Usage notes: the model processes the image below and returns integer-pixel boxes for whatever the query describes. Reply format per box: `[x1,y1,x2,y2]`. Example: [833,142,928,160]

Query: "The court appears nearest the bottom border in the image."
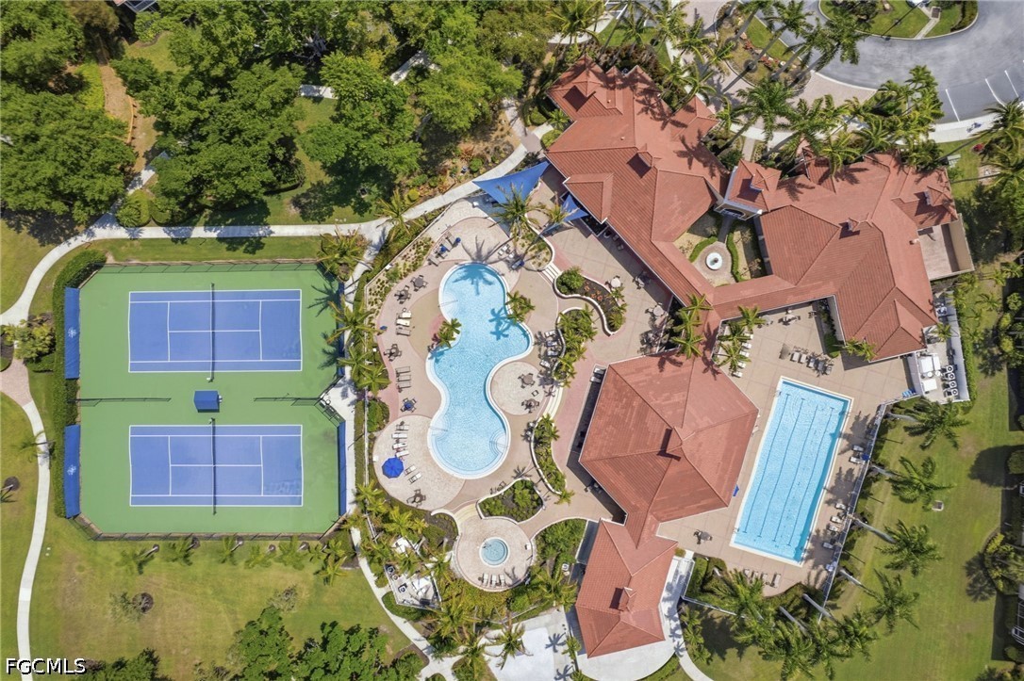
[80,399,338,535]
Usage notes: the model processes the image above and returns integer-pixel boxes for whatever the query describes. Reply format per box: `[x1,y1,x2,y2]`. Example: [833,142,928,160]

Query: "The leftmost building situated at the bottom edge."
[575,508,679,660]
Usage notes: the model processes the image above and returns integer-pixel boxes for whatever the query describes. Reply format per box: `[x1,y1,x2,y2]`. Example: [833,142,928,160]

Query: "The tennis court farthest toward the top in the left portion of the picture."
[80,264,337,401]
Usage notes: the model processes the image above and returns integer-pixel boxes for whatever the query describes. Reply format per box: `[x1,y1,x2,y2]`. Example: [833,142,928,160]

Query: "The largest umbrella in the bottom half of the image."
[382,456,404,478]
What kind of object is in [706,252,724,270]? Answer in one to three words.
fountain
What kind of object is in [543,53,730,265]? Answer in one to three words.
building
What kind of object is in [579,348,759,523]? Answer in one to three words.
building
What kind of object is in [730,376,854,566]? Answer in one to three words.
swimming pool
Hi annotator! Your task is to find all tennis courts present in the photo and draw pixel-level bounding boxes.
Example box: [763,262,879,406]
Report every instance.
[80,264,337,401]
[80,399,338,535]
